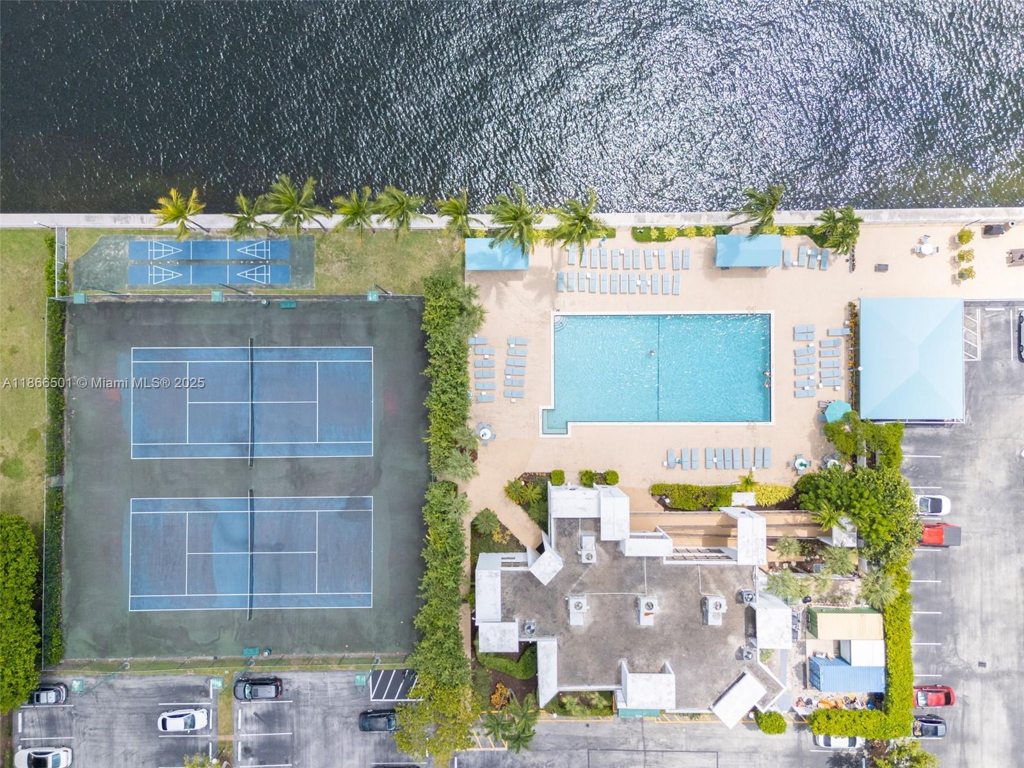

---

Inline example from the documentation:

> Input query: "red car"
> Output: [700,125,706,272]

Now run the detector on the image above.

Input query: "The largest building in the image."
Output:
[475,483,856,730]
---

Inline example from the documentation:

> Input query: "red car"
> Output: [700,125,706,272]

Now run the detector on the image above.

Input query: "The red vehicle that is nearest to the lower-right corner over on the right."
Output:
[910,683,955,707]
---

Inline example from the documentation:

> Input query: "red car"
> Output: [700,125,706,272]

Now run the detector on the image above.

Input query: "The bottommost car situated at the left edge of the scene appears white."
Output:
[20,745,74,768]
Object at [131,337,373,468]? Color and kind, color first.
blue tennis court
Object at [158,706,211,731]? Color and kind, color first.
white car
